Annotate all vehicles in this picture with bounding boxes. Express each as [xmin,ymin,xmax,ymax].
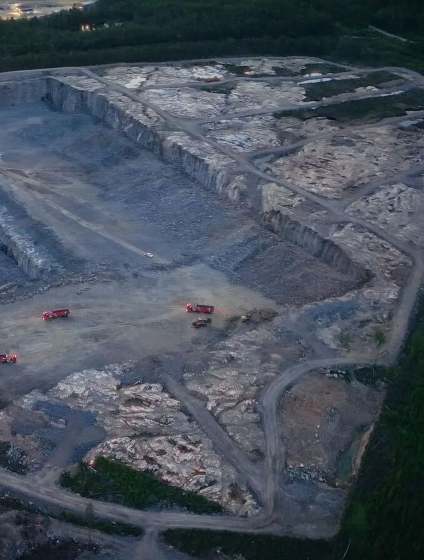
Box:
[190,317,210,328]
[0,353,15,363]
[188,303,214,314]
[44,308,69,320]
[240,310,262,322]
[144,252,153,258]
